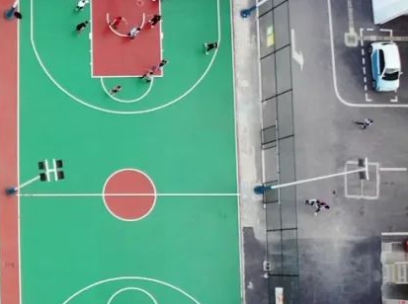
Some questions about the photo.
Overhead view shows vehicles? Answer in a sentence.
Yes, a vehicle appears in the view.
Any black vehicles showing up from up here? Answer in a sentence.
No, I can see no black vehicle in this picture.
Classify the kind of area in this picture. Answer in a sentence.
It's a sports ground.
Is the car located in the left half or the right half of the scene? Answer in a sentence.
It is on the right.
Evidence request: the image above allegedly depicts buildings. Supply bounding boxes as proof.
[381,230,408,304]
[374,0,408,24]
